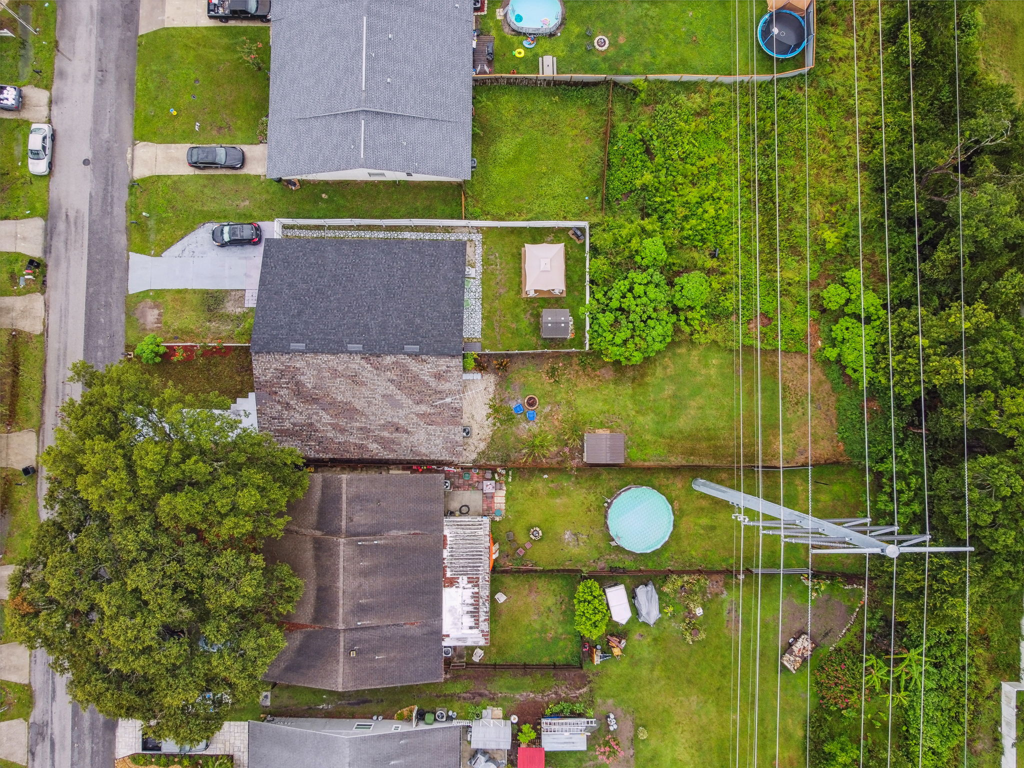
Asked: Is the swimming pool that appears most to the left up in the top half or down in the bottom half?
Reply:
top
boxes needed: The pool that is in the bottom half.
[600,482,674,553]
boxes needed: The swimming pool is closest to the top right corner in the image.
[506,0,564,39]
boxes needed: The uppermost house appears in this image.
[266,0,474,182]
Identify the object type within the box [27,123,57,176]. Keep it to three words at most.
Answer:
car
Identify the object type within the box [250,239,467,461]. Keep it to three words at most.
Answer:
house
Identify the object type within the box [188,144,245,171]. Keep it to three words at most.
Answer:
car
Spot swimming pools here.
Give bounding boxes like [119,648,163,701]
[506,0,564,39]
[600,482,674,553]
